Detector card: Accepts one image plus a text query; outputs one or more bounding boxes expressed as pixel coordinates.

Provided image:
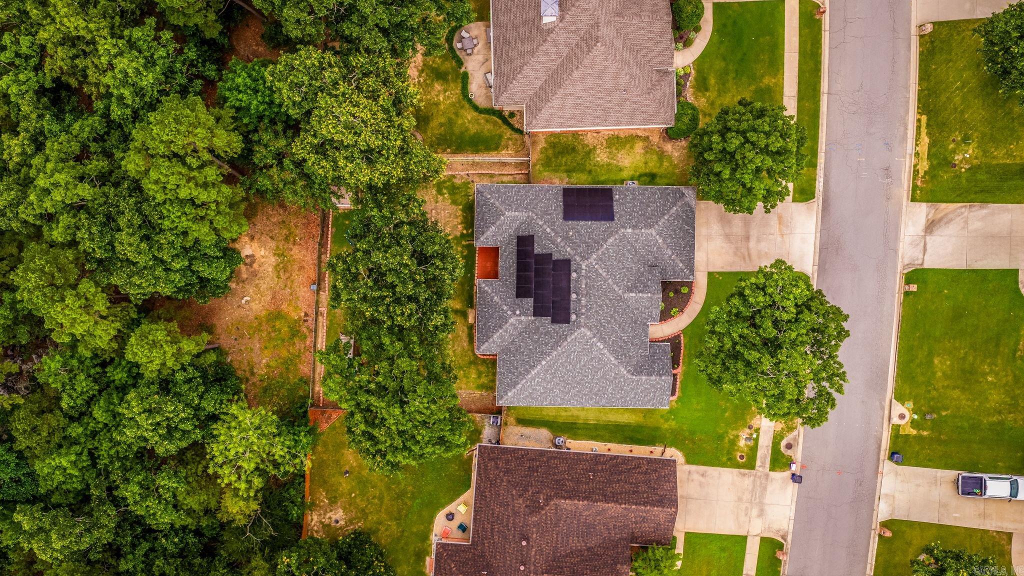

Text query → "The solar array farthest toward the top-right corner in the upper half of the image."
[563,188,614,221]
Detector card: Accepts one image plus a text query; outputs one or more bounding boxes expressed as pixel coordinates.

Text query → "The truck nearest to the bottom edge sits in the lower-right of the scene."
[952,470,1024,502]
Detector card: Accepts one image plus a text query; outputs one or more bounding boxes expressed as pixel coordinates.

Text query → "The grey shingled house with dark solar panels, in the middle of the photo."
[474,183,696,408]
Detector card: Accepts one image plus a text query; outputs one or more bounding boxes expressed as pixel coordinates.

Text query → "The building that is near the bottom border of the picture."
[431,439,678,576]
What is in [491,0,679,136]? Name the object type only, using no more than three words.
house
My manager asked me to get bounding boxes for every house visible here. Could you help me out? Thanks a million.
[491,0,679,136]
[431,439,678,576]
[474,183,696,408]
